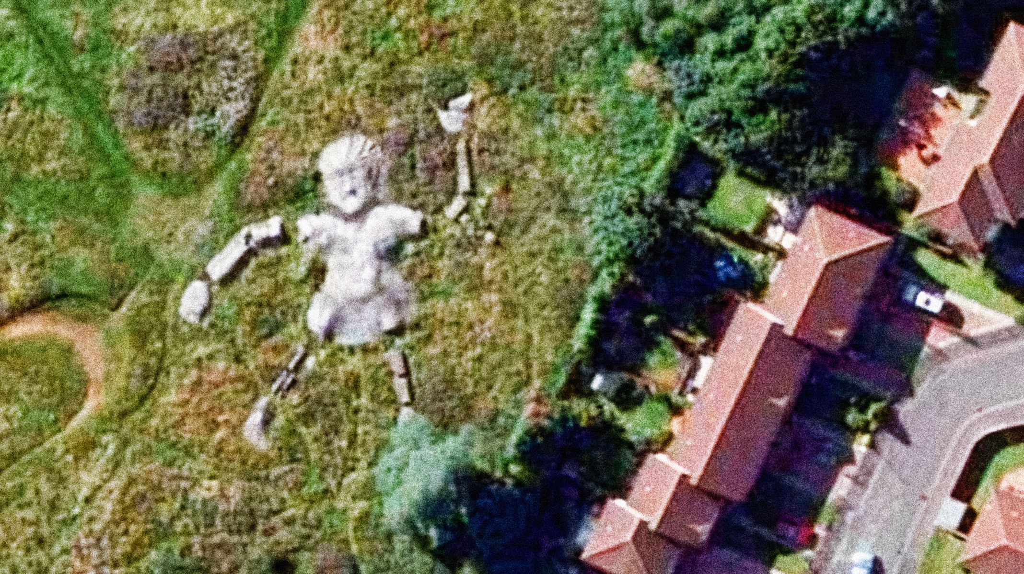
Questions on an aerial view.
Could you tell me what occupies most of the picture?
grass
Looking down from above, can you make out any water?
No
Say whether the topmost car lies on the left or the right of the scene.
right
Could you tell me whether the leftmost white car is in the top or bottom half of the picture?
bottom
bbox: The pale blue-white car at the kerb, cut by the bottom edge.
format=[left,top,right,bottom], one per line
[850,549,876,574]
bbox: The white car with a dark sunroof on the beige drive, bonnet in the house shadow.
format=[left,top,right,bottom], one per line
[900,282,948,318]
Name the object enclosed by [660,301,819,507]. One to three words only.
house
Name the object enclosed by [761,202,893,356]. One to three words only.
house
